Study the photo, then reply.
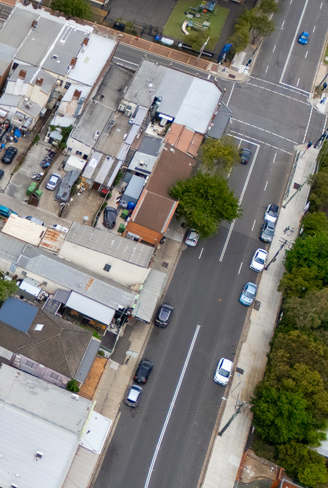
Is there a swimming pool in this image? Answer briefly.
No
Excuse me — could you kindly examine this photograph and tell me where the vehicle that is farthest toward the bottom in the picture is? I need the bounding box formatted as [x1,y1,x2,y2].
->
[122,383,143,410]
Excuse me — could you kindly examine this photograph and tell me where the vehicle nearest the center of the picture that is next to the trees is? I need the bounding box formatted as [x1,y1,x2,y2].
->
[183,228,200,249]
